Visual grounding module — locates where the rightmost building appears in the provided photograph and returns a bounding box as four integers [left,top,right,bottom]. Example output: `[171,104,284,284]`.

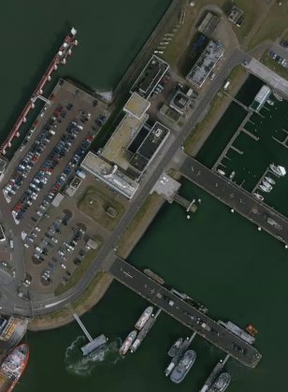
[249,85,272,112]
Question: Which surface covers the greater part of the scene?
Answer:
water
